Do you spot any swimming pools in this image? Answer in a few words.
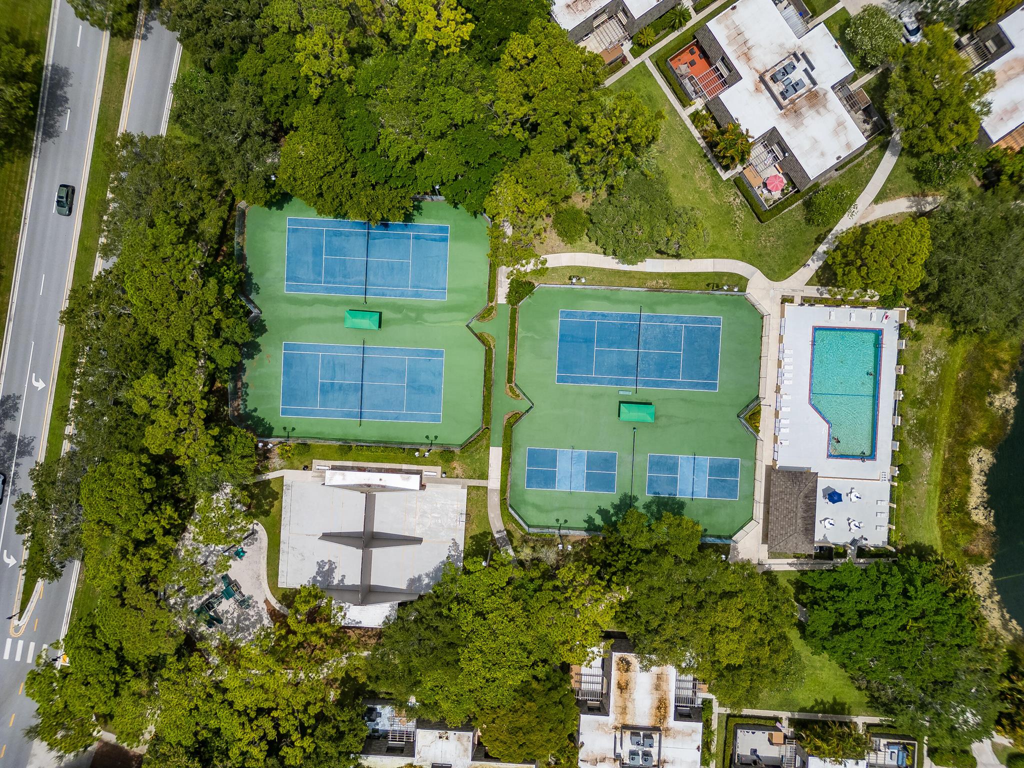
Yes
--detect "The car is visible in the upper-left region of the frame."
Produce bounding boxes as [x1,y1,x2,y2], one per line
[55,183,75,217]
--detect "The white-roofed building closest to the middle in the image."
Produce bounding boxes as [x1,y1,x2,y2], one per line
[326,469,422,488]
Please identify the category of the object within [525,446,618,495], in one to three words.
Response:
sports court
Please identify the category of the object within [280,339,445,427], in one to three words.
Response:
tennis court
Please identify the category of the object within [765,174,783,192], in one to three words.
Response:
umbrella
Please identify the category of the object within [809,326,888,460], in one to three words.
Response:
swimming pool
